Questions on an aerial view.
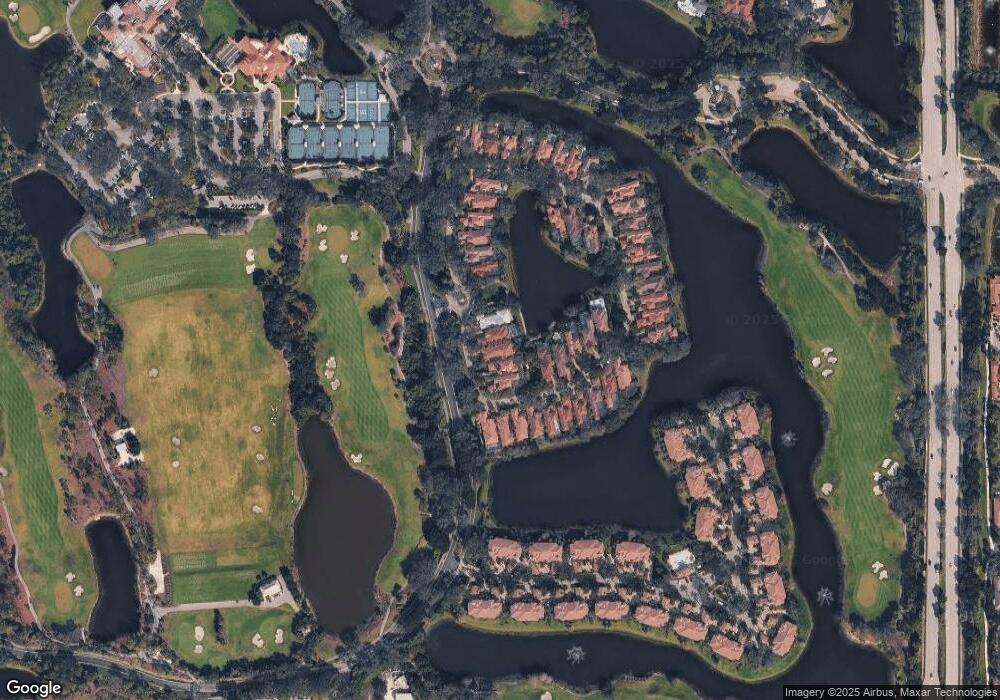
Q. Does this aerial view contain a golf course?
Yes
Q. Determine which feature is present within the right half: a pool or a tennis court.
pool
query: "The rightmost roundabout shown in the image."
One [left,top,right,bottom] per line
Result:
[694,78,743,124]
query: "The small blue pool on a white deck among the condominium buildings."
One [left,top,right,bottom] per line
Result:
[667,550,696,571]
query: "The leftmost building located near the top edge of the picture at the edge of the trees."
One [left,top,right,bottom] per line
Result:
[99,0,182,79]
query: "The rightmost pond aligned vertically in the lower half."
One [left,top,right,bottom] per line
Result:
[86,517,140,639]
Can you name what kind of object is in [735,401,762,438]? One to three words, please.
building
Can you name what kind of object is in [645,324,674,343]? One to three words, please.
house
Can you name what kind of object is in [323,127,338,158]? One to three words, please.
tennis court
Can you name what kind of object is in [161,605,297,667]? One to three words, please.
golf course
